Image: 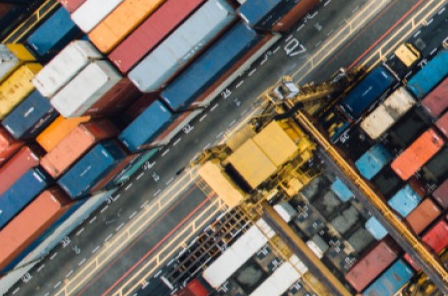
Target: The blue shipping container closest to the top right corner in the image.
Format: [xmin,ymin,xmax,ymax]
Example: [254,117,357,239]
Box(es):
[407,42,448,96]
